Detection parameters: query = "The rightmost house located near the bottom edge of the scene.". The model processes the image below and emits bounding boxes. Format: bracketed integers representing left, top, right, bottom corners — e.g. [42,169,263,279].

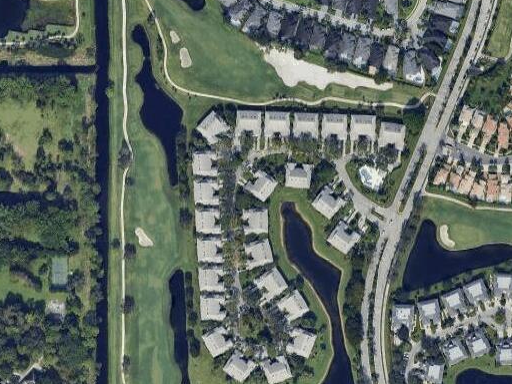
[496,340,512,365]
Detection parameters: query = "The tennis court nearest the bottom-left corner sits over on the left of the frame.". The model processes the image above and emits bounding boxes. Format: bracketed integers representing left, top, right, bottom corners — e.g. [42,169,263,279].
[51,256,66,285]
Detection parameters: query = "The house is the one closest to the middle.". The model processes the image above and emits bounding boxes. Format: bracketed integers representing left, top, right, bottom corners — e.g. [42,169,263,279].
[244,169,277,203]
